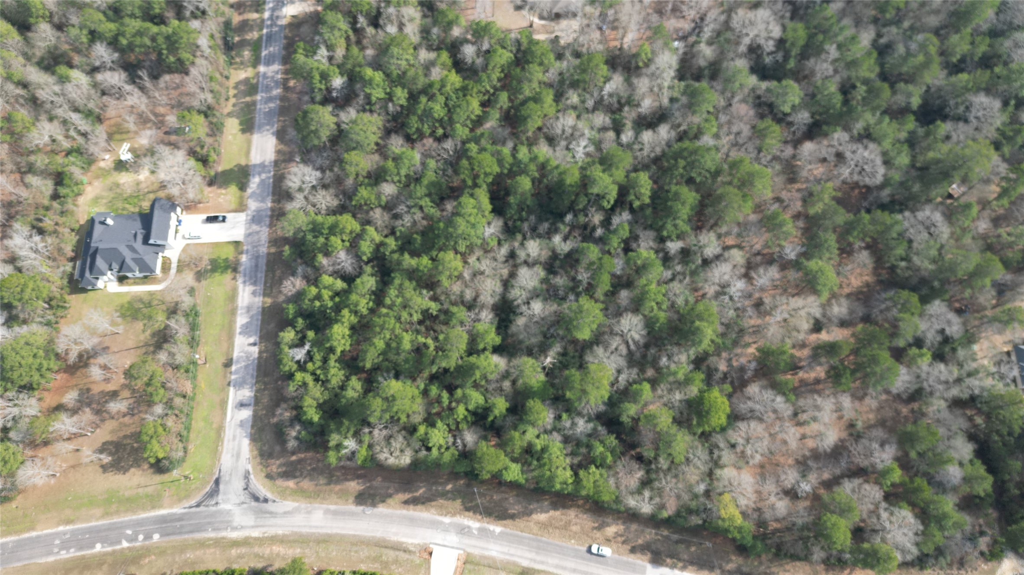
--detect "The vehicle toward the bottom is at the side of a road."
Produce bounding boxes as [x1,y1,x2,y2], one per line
[591,545,612,558]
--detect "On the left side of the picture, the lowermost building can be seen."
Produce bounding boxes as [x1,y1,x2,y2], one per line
[73,196,184,291]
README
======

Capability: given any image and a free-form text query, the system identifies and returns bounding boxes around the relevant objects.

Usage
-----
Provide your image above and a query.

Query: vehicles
[184,231,202,240]
[205,215,227,224]
[591,545,612,558]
